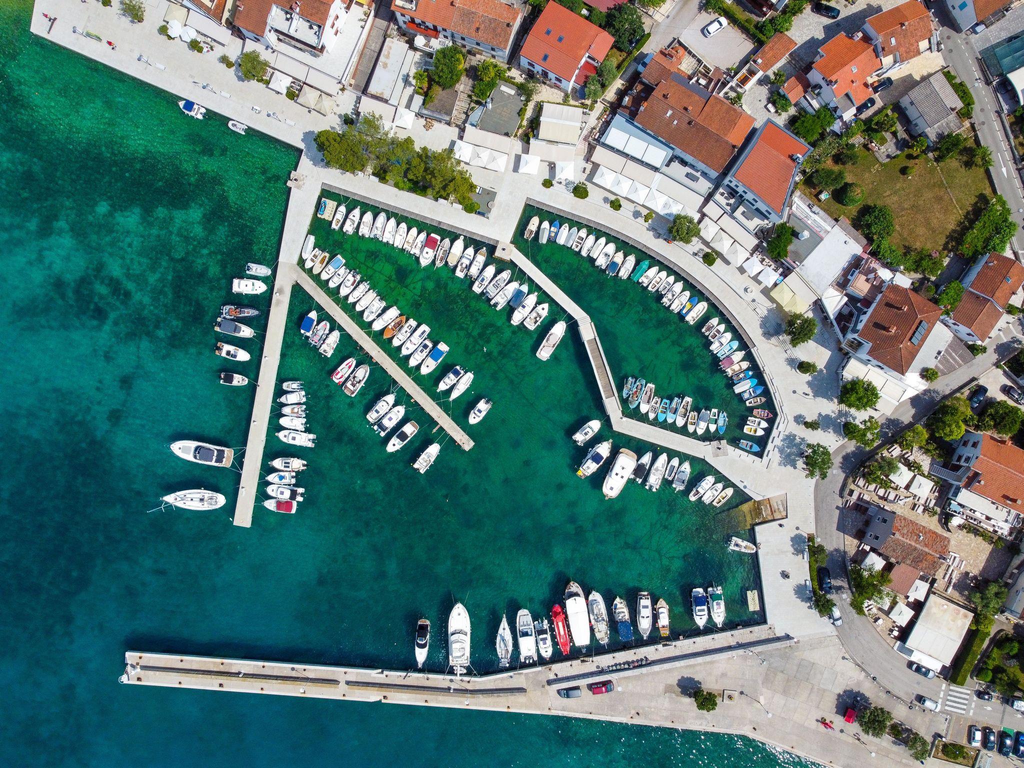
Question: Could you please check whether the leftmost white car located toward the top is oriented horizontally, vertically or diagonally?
diagonally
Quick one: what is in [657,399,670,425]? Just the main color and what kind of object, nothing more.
blue boat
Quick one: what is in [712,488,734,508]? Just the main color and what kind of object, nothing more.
white boat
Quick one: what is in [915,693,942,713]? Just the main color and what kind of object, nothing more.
white car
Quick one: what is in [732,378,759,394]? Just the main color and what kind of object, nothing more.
white boat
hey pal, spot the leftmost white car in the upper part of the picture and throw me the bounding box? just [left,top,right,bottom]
[703,16,728,40]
